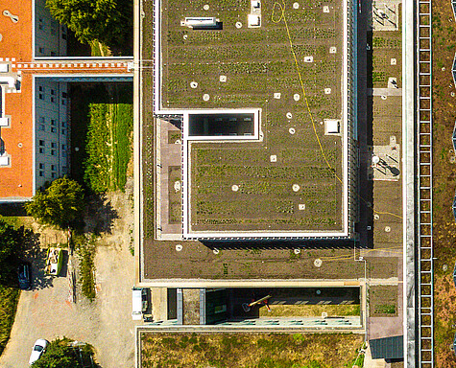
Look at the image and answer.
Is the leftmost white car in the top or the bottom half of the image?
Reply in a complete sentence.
It is in the bottom half that the leftmost white car appears.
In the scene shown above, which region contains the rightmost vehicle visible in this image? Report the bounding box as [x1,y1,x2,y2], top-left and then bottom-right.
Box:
[130,289,145,322]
